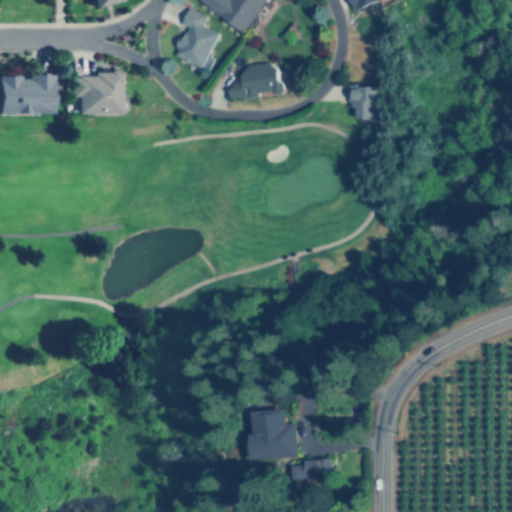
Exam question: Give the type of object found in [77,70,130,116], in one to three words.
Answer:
house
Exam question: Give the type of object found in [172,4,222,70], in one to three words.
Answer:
house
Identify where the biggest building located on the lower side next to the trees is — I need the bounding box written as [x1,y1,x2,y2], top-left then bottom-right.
[248,410,297,461]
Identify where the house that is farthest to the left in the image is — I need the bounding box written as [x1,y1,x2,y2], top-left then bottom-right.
[4,73,60,116]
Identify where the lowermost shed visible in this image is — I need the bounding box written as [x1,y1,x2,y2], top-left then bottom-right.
[292,458,333,480]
